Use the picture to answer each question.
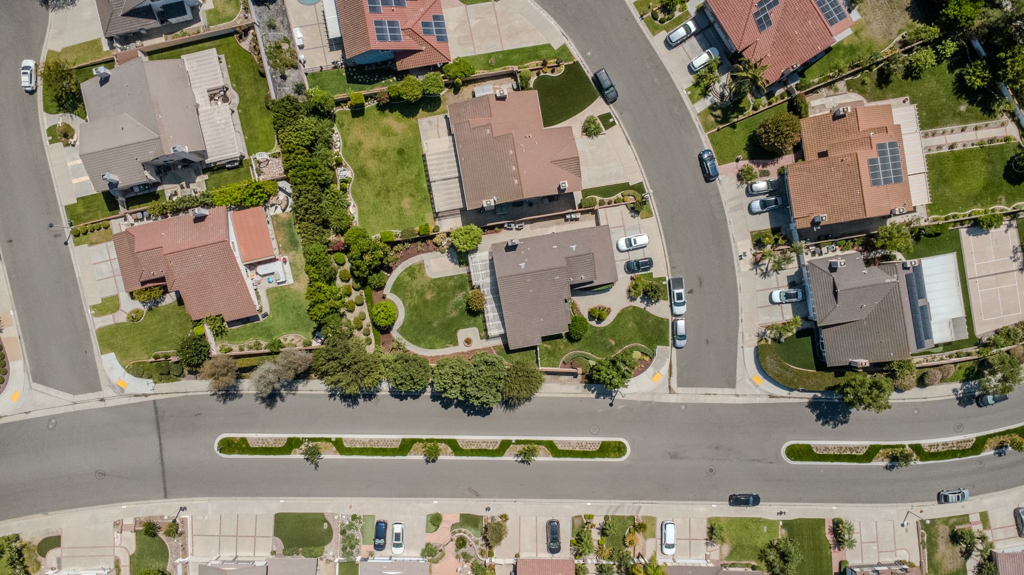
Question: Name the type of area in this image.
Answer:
residential area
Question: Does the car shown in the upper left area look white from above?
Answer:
Yes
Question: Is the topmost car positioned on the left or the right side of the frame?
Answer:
right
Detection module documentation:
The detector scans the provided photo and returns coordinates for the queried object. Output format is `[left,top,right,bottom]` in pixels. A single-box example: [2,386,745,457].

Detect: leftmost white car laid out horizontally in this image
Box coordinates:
[616,234,650,251]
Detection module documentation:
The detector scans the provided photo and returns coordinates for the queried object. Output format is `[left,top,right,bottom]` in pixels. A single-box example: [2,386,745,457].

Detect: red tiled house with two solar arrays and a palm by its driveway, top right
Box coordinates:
[693,0,854,92]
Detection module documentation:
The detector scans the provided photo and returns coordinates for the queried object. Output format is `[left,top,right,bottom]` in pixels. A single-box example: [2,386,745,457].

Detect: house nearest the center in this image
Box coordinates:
[491,225,618,350]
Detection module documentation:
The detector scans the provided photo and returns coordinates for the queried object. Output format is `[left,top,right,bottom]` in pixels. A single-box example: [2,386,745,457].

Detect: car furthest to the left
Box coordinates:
[19,59,40,93]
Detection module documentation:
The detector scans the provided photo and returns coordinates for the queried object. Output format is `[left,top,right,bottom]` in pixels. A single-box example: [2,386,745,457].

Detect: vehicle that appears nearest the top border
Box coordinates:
[664,20,698,46]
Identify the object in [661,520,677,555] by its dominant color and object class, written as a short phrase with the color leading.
white car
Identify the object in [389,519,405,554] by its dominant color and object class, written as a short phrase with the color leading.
white car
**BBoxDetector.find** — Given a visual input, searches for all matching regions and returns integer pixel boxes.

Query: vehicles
[687,47,719,72]
[727,491,760,508]
[669,277,687,315]
[745,178,778,195]
[19,59,40,93]
[672,318,688,348]
[372,519,388,551]
[592,69,616,103]
[546,518,562,554]
[1013,503,1024,538]
[624,258,654,273]
[616,234,650,251]
[769,289,803,304]
[972,391,1009,409]
[698,149,717,182]
[661,520,677,555]
[389,519,405,554]
[748,197,782,213]
[664,20,698,46]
